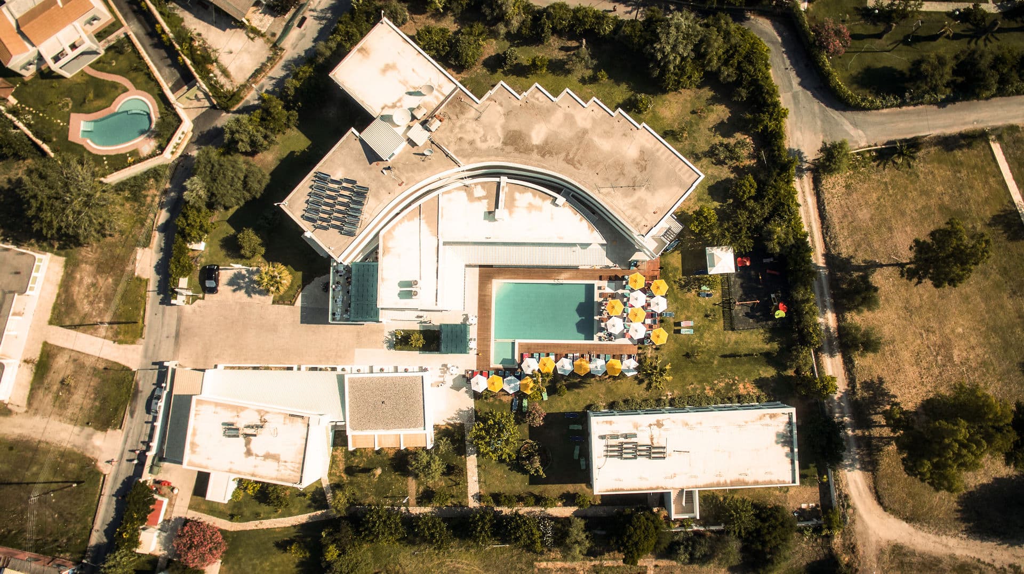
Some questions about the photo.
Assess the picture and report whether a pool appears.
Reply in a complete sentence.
Yes, the image includes a pool.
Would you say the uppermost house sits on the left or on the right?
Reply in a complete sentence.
You can find the uppermost house on the left side of the picture.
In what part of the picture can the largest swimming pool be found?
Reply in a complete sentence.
The largest swimming pool is in the center part of the image.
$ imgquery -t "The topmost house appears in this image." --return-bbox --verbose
[206,0,263,31]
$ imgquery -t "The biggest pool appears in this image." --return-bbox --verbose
[490,278,638,368]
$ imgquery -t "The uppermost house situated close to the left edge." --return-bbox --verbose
[0,0,127,86]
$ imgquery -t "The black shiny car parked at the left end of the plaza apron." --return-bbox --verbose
[204,264,221,294]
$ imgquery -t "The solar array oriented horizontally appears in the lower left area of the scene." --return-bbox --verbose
[223,420,264,436]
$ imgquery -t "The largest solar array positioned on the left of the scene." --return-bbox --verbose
[304,172,369,237]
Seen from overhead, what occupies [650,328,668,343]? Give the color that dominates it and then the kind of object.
yellow umbrella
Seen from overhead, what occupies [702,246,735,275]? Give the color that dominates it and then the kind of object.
white gazebo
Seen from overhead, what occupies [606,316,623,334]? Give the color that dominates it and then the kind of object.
white umbrella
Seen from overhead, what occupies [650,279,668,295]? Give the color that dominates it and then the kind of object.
yellow umbrella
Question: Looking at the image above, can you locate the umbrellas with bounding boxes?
[628,306,646,323]
[606,316,623,334]
[519,376,535,394]
[650,295,667,313]
[556,357,572,375]
[605,299,623,315]
[487,374,504,392]
[650,328,668,343]
[520,357,538,375]
[605,358,622,374]
[621,358,638,376]
[589,358,606,375]
[650,279,668,295]
[538,357,556,372]
[573,358,589,375]
[628,272,644,289]
[471,374,488,393]
[628,321,646,340]
[504,375,520,394]
[628,290,645,308]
